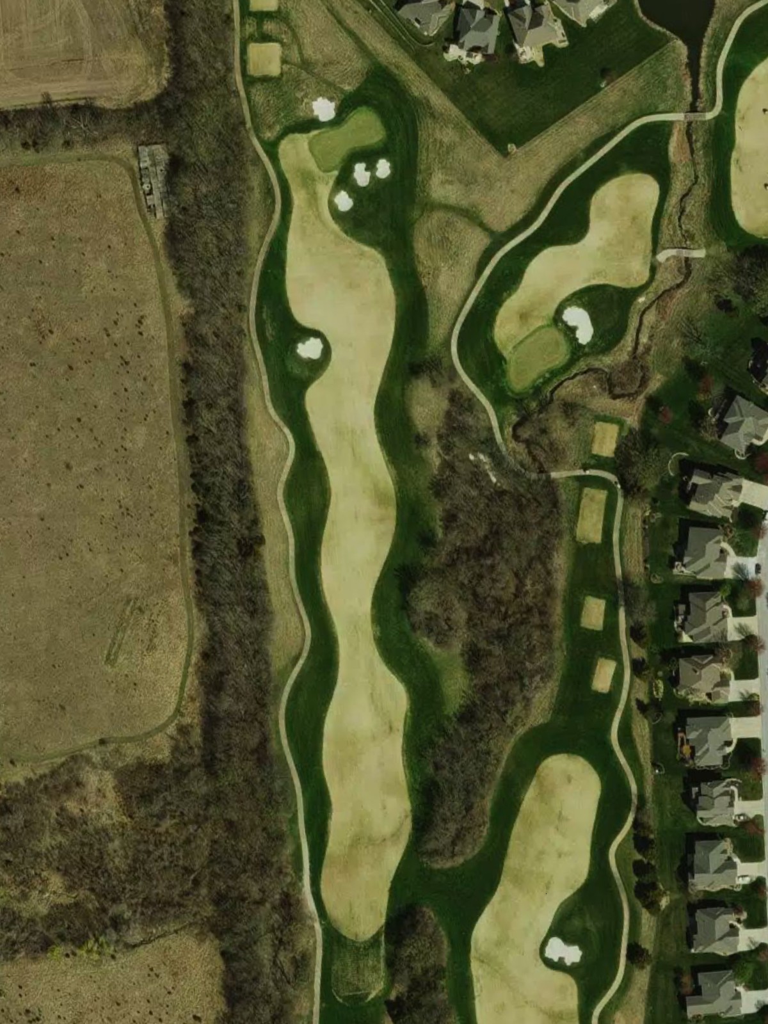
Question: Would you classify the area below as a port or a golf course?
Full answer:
What you see here is a golf course.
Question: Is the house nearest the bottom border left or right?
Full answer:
The house nearest the bottom border sits on the right side.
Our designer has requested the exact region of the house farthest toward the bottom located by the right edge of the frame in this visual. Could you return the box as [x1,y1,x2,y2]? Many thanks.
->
[688,972,743,1019]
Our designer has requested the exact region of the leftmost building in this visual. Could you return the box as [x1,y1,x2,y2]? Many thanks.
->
[397,0,453,34]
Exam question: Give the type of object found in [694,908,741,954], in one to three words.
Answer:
house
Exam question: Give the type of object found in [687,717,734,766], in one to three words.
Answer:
house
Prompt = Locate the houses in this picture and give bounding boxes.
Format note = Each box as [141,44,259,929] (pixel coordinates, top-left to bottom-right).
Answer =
[689,842,739,889]
[688,972,743,1019]
[456,4,499,54]
[684,526,726,580]
[716,395,768,454]
[694,908,741,954]
[397,0,453,34]
[555,0,606,25]
[508,0,560,45]
[687,717,734,766]
[688,593,730,643]
[681,655,731,703]
[698,783,735,826]
[687,469,745,520]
